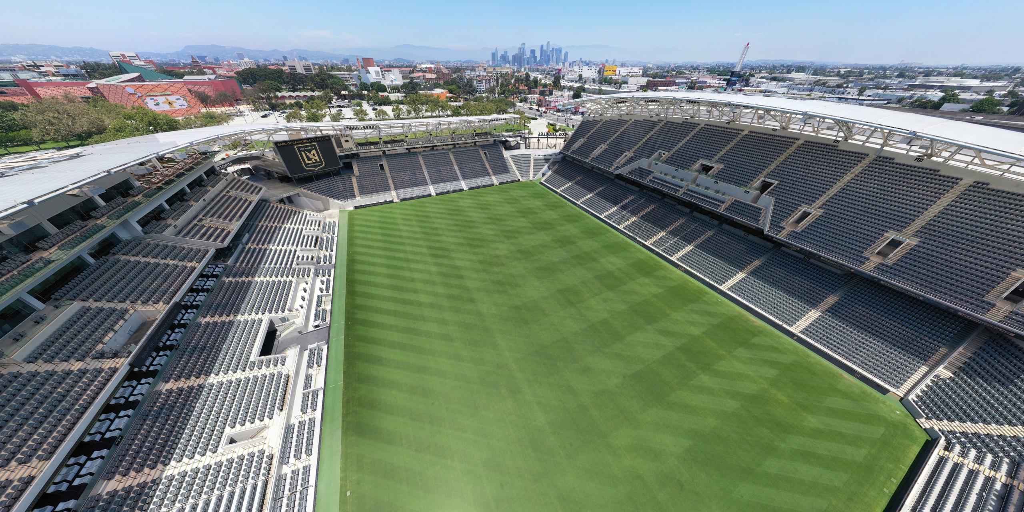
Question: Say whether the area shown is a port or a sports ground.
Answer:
sports ground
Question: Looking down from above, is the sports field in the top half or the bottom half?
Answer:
bottom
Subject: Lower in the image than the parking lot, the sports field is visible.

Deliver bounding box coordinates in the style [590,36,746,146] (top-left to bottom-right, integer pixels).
[341,181,933,512]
